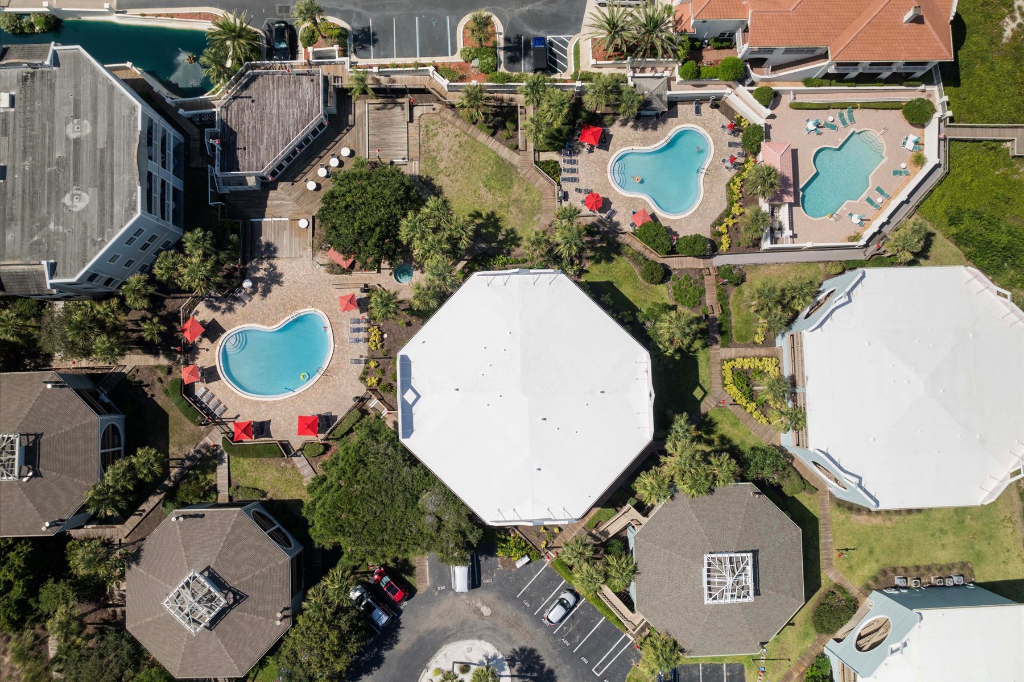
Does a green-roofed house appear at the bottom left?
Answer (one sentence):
No, no green-roofed house is visible at the bottom left.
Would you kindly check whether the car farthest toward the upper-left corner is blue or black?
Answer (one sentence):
In this view, the car farthest toward the upper-left corner is black.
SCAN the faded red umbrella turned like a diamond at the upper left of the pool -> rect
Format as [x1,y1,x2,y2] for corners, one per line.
[182,318,205,341]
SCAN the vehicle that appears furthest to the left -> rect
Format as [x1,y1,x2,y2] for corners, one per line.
[271,20,291,62]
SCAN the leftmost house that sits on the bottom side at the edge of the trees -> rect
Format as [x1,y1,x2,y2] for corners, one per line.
[0,364,132,536]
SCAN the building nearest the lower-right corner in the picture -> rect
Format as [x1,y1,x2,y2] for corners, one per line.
[813,582,1024,682]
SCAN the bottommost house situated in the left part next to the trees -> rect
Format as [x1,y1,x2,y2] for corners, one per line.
[125,498,314,678]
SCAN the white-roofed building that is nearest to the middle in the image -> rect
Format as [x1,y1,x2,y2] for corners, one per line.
[394,268,658,530]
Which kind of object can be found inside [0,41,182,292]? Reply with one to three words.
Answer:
building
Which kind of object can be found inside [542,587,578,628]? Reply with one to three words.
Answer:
car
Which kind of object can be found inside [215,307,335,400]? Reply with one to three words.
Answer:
swimming pool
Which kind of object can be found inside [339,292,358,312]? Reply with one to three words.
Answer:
umbrella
